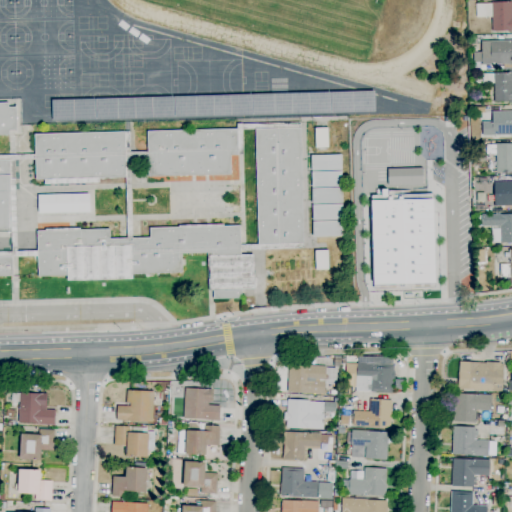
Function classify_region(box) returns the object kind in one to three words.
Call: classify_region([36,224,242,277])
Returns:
building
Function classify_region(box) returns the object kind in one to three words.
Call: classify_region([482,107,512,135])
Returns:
house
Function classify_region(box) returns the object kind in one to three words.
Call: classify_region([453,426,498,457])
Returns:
house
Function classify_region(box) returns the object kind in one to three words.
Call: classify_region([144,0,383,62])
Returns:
sports field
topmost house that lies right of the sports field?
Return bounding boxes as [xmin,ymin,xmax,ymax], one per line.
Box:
[477,1,512,30]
